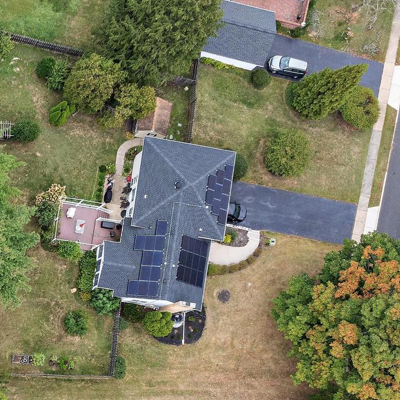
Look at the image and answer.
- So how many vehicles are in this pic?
2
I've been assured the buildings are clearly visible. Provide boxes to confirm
[206,0,278,69]
[91,136,237,345]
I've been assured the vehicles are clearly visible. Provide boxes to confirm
[265,53,313,80]
[228,203,252,225]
